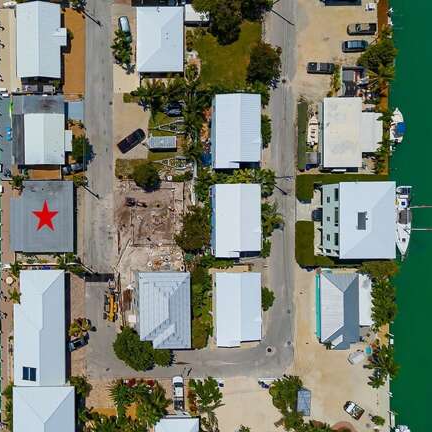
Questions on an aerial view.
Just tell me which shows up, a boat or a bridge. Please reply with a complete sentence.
The one in the frame is a boat.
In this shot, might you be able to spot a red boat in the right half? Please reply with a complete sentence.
No, no red boat appears in the right half.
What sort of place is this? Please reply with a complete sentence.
This image shows a residential area.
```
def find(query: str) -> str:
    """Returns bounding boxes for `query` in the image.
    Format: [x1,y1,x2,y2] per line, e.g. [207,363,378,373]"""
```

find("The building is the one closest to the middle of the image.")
[213,184,262,258]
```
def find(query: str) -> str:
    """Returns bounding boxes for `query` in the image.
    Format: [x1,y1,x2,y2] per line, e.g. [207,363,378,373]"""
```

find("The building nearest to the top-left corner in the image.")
[16,0,67,79]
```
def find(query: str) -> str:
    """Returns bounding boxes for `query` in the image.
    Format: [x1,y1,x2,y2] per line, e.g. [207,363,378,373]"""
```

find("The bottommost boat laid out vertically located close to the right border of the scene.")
[396,186,432,262]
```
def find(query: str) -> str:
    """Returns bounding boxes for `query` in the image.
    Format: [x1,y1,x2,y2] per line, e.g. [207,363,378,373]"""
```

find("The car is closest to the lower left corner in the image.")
[66,334,91,352]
